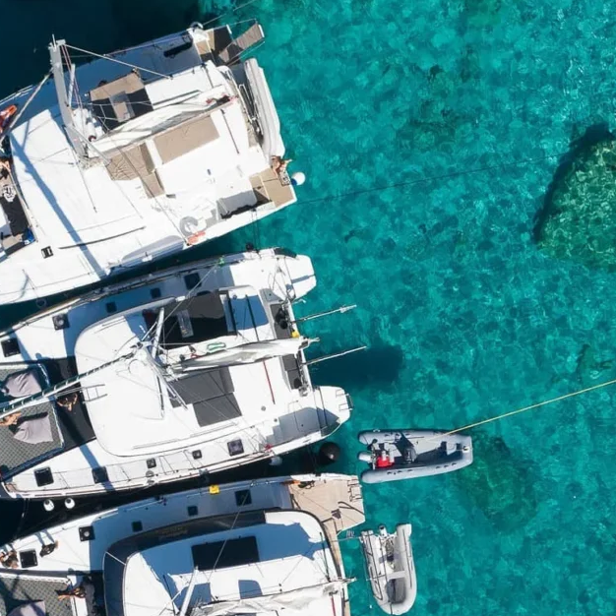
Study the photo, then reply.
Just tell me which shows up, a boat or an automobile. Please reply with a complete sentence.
The image shows a boat.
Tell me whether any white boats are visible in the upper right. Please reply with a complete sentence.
No, no white boat is visible in the upper right.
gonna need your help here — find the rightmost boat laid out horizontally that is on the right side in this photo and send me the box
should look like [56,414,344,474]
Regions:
[351,426,475,483]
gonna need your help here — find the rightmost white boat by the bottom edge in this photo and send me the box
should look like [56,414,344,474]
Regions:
[361,517,418,616]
